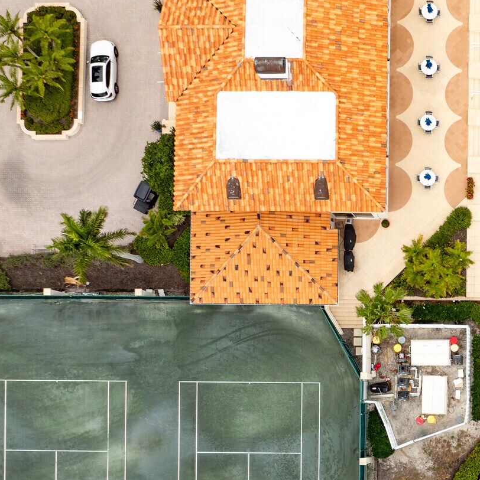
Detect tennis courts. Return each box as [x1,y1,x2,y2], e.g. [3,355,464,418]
[0,300,151,480]
[151,301,362,480]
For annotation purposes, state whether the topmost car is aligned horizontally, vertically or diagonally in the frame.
vertically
